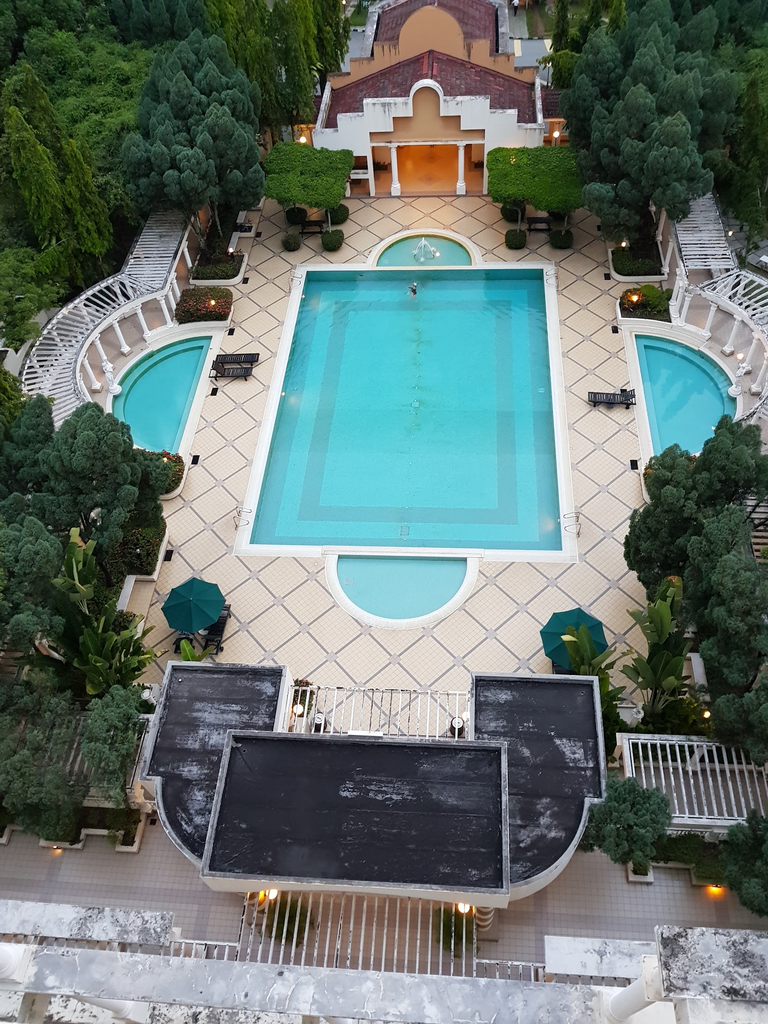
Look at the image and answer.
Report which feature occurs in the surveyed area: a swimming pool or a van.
swimming pool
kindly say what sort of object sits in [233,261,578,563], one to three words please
swimming pool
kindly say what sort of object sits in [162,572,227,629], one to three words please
umbrella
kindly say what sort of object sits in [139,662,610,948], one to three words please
building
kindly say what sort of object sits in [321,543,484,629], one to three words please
swimming pool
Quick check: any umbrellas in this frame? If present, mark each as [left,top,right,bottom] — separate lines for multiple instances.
[162,572,227,629]
[538,605,605,667]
